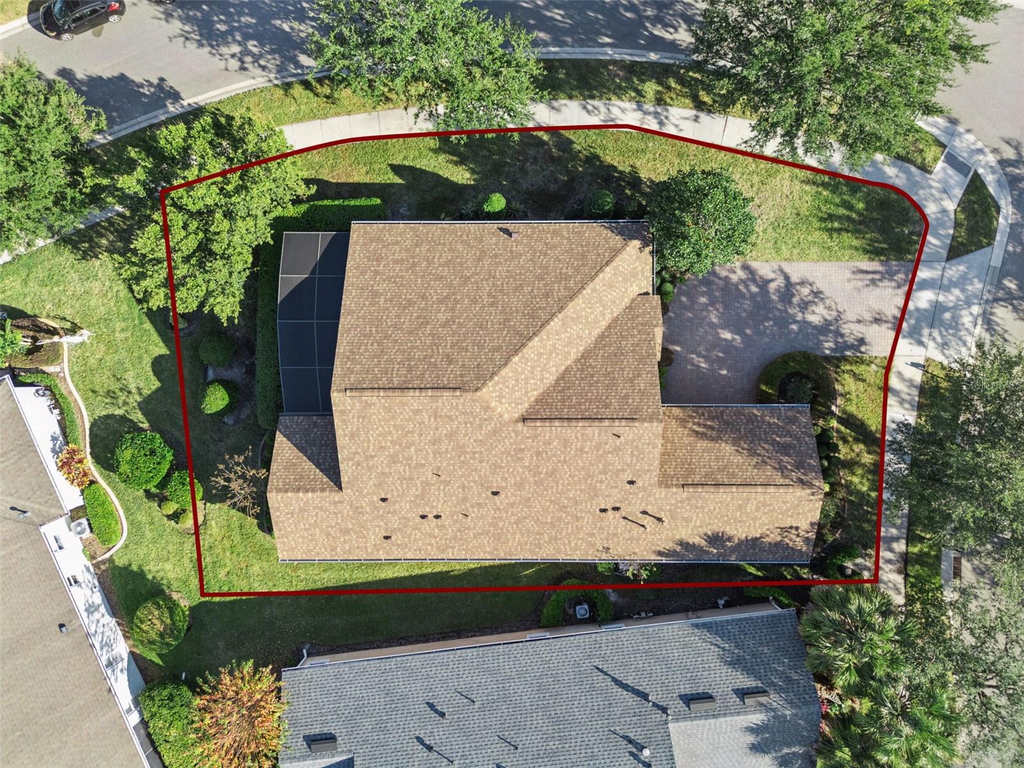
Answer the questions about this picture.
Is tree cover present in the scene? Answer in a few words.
Yes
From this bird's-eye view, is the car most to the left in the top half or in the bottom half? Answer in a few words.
top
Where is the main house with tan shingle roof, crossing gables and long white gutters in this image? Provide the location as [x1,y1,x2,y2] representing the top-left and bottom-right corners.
[267,219,825,565]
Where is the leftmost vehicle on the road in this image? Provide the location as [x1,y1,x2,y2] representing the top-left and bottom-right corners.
[38,0,124,41]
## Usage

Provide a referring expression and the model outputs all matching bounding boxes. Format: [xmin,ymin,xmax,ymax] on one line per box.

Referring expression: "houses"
[267,219,825,565]
[279,599,821,768]
[0,375,159,768]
